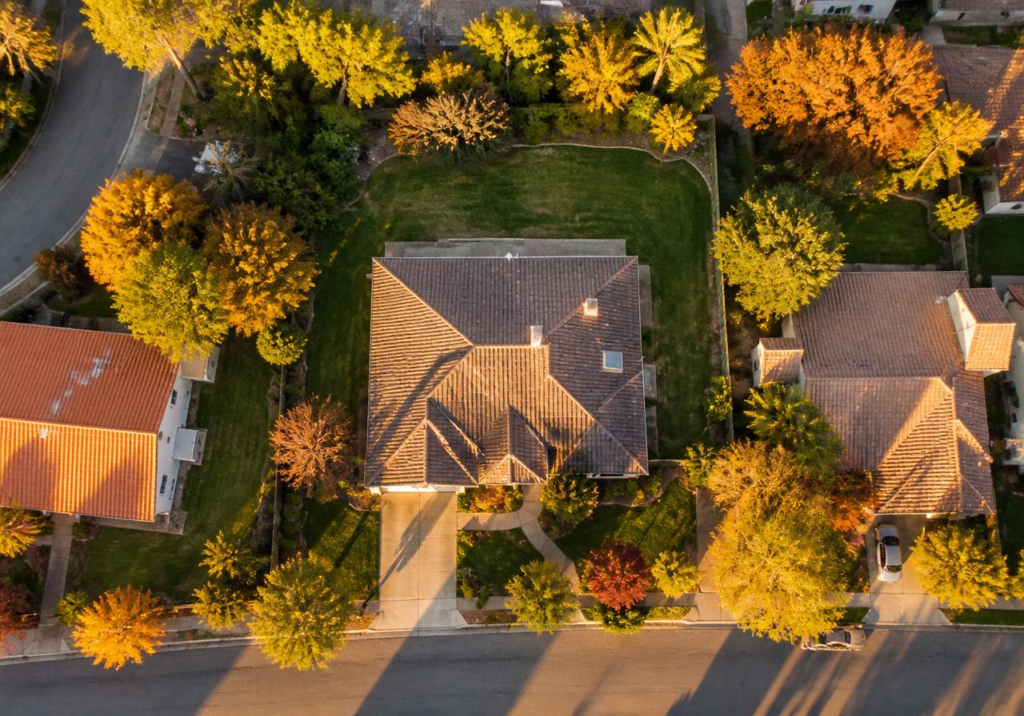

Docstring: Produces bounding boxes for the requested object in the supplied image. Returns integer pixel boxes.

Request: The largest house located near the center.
[364,251,651,491]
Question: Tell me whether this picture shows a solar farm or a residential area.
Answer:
residential area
